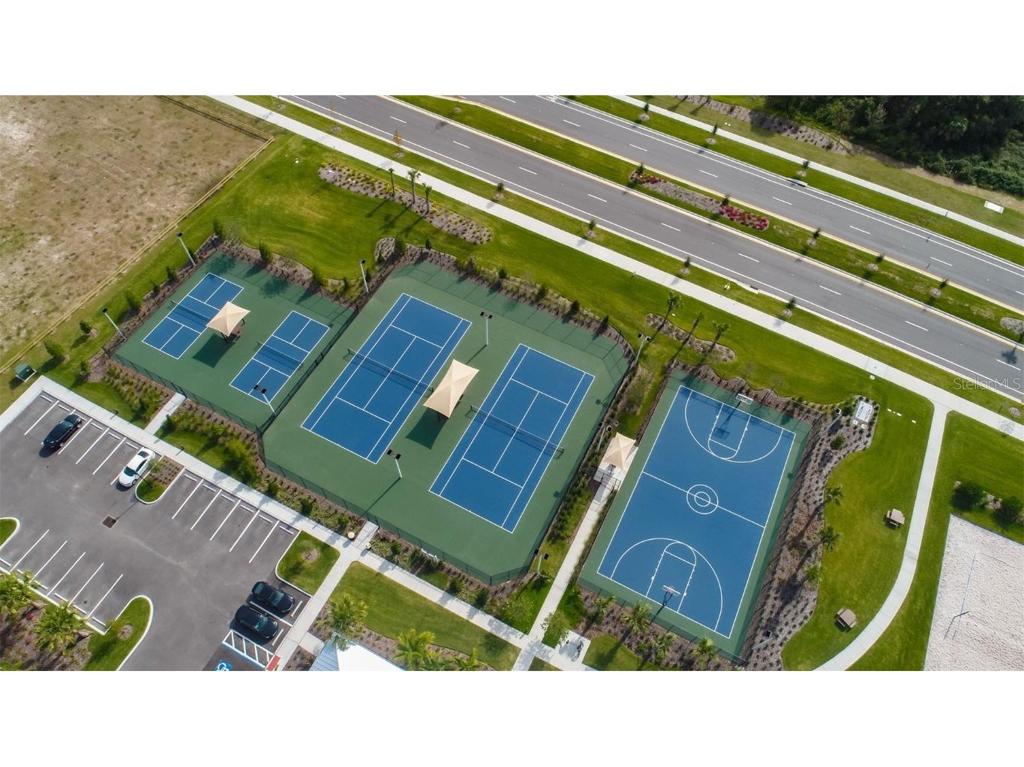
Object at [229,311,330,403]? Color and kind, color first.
blue sports court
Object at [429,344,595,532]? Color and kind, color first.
blue tennis court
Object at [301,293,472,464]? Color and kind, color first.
blue tennis court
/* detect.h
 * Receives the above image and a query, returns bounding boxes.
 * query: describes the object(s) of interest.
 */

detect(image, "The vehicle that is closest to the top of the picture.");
[42,416,82,452]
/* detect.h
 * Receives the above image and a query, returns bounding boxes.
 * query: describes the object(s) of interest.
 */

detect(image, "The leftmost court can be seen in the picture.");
[142,272,243,359]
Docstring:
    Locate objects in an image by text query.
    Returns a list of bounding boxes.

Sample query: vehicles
[117,449,155,488]
[250,582,294,614]
[233,605,279,641]
[42,416,82,452]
